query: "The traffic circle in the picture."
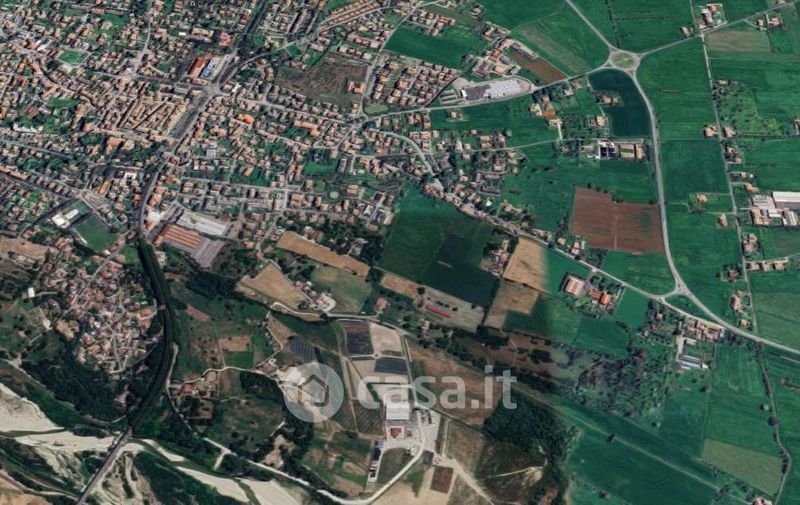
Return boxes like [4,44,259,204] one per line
[592,41,652,86]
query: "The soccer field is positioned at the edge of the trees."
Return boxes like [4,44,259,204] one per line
[75,213,119,251]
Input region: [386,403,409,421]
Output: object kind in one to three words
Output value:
building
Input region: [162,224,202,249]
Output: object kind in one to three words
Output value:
building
